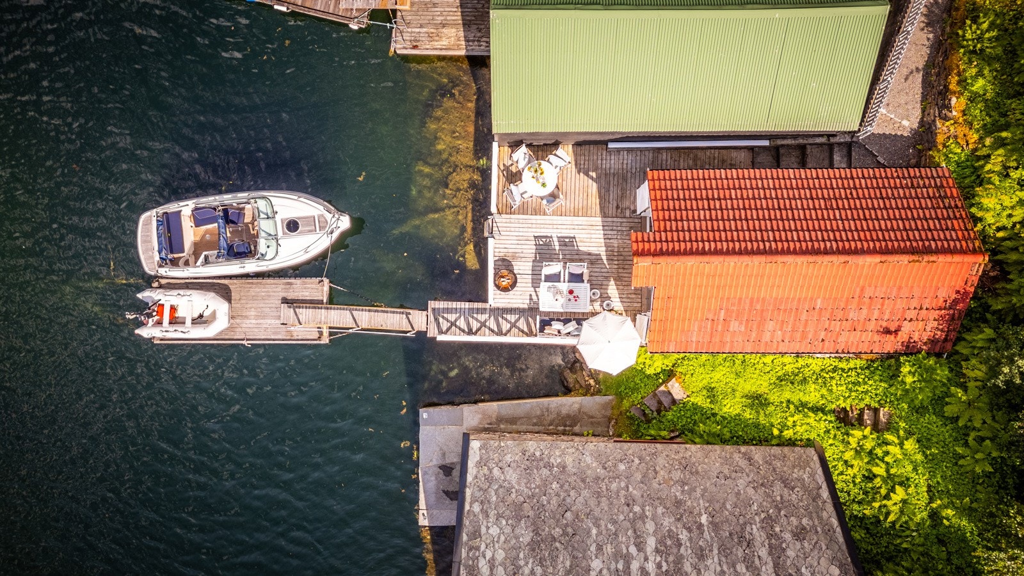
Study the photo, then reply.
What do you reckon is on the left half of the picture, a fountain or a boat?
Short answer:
boat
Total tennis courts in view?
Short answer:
0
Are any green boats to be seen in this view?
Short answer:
No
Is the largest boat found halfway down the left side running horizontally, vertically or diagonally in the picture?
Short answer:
horizontally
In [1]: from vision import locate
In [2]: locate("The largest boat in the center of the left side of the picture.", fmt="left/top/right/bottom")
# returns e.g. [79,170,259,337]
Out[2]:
[135,191,352,279]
